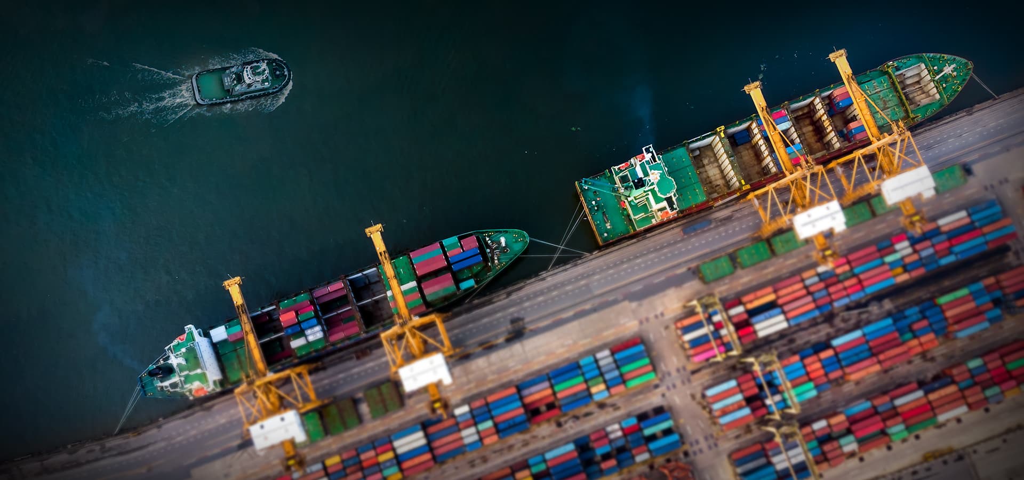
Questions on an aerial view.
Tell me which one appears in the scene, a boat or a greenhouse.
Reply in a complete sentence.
This aerial view contains a boat.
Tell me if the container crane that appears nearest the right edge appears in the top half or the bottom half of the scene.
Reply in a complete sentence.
You can find the container crane that appears nearest the right edge in the top half.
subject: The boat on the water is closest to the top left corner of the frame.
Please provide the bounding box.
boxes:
[192,61,292,102]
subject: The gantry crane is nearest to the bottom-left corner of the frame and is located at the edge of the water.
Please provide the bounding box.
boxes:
[226,276,334,467]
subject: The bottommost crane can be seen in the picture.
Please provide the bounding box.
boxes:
[757,412,822,480]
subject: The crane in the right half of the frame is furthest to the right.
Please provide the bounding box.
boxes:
[824,47,941,232]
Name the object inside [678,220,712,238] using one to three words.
vehicle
